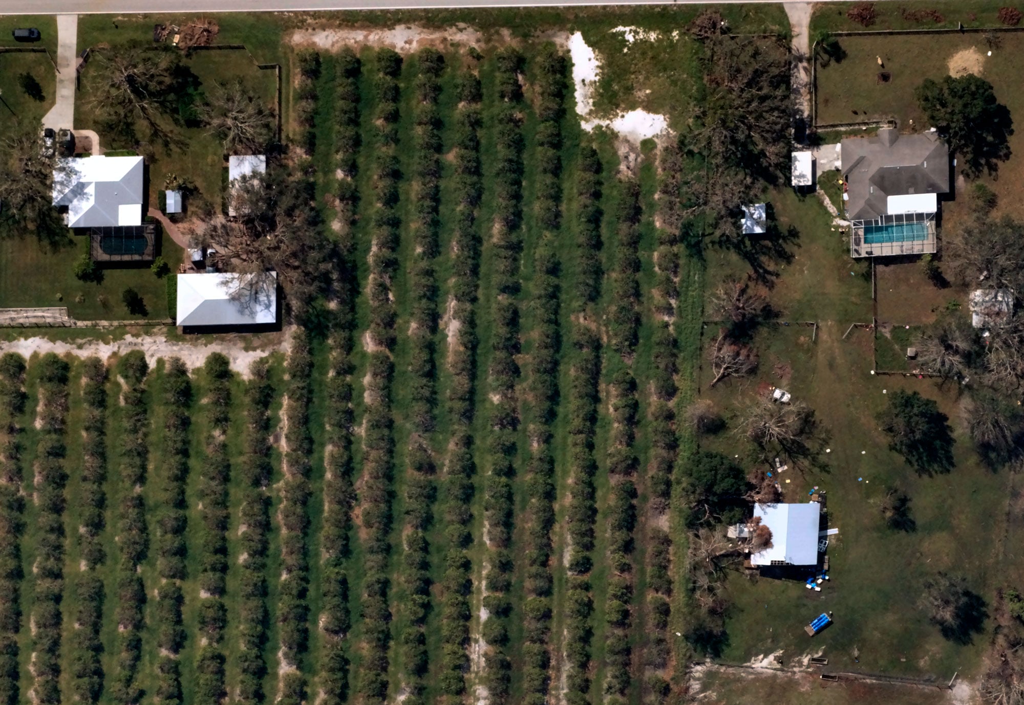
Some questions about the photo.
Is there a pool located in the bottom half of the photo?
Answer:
No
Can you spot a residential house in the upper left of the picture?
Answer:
Yes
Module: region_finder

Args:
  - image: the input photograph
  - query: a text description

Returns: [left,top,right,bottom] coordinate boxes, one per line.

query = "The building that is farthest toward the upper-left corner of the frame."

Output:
[52,155,143,227]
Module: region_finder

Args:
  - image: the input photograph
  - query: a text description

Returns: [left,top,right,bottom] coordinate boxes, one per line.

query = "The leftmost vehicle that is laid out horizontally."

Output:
[12,27,40,40]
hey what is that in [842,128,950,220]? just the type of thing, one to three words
house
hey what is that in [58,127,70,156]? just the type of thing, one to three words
vehicle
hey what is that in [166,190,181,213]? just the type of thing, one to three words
shed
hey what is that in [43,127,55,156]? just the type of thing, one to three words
vehicle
